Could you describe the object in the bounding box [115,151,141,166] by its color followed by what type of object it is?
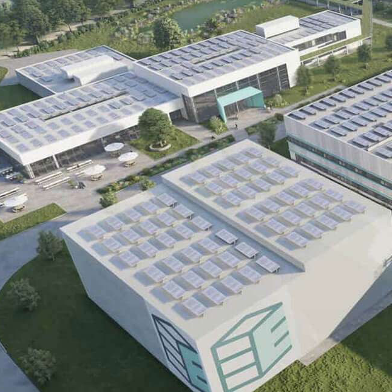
white umbrella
